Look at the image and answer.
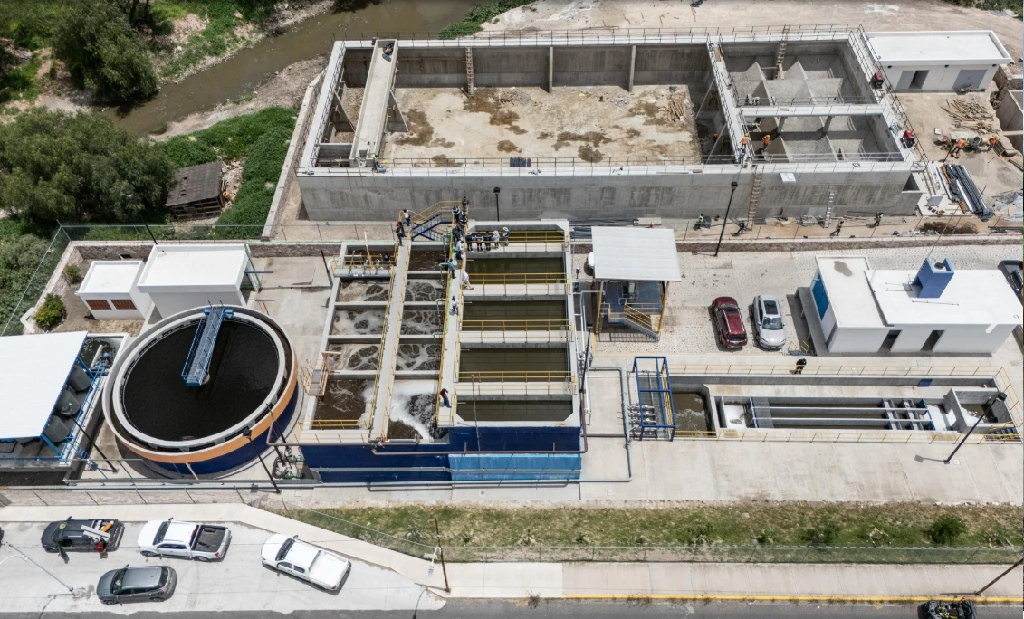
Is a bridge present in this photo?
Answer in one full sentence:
Yes, a bridge is visible in the scene.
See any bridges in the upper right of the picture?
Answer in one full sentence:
No, no bridge is visible in the upper right of the picture.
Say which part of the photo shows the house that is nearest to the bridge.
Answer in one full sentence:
Look in the left portion of the view to spot the house that is nearest to the bridge.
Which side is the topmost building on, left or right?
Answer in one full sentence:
The topmost building appears in the right half of the scene.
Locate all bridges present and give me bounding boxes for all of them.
[183,296,242,386]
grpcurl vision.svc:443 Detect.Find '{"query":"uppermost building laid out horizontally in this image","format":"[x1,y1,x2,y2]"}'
[870,29,1017,95]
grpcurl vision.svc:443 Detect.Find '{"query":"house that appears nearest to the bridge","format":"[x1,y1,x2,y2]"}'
[137,241,253,316]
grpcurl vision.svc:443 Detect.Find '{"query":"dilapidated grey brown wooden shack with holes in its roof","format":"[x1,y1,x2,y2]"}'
[166,160,225,216]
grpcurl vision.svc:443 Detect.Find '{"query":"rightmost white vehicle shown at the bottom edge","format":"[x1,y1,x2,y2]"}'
[258,537,350,597]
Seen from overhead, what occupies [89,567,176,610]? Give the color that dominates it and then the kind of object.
gray car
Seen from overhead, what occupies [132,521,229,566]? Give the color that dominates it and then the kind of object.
white truck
